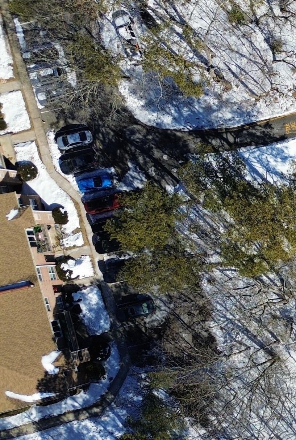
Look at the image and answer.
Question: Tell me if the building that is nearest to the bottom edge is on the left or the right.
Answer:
left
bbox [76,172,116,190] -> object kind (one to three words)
car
